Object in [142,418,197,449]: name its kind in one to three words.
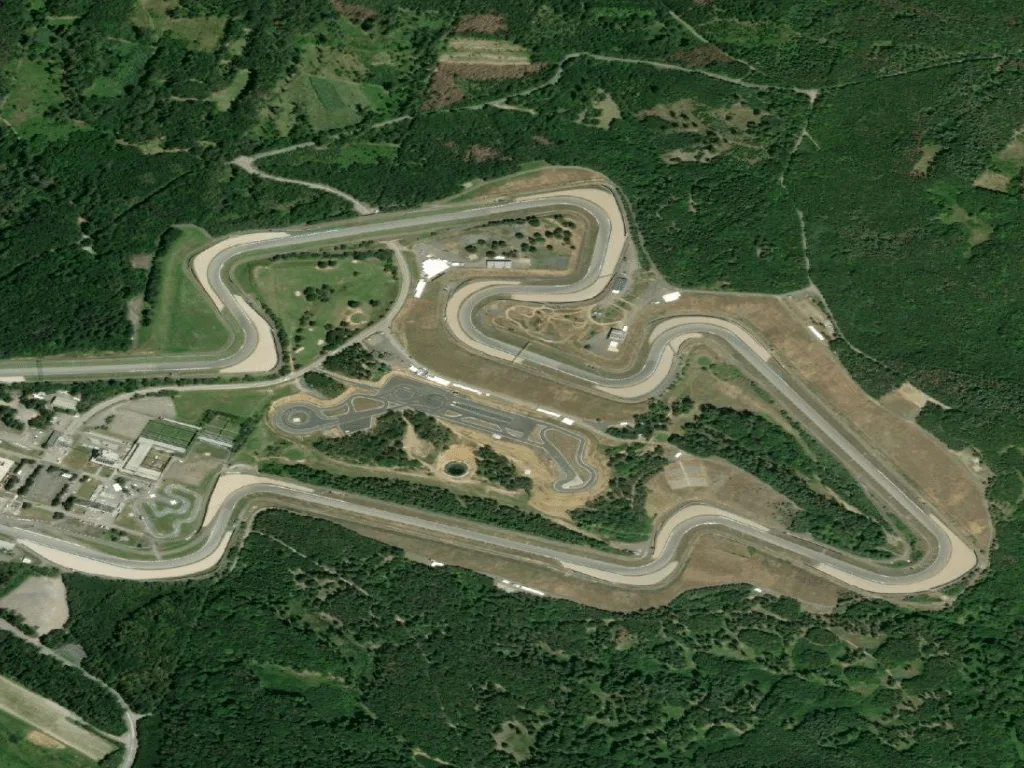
sports court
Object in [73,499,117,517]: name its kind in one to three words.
building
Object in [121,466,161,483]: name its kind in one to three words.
building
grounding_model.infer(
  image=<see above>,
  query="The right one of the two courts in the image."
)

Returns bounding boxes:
[204,414,241,441]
